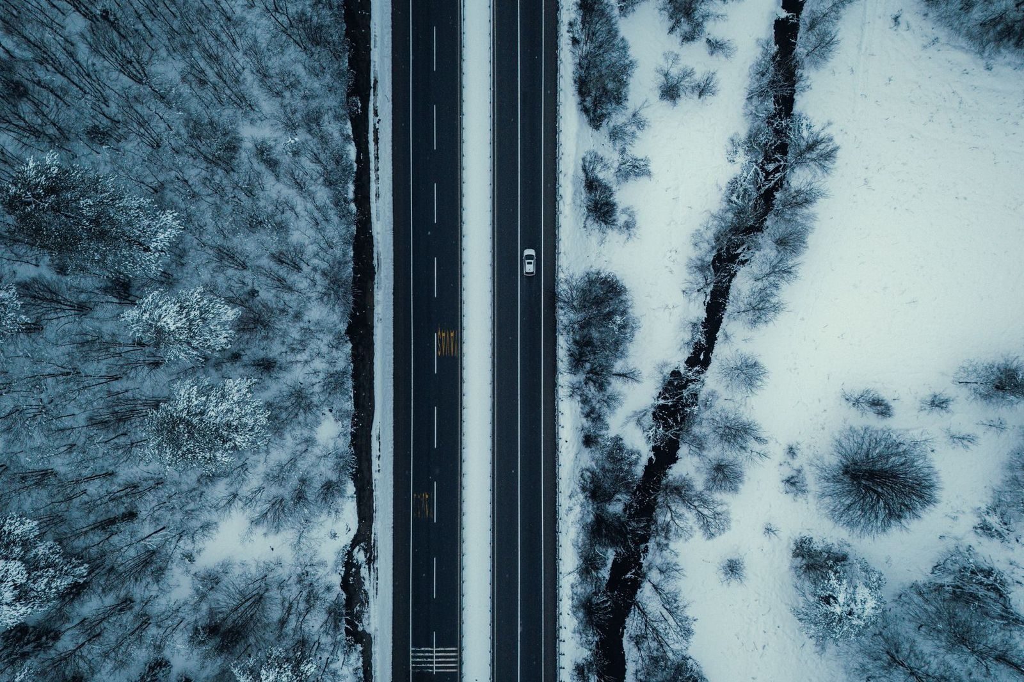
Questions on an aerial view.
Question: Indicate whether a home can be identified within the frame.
No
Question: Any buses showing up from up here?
No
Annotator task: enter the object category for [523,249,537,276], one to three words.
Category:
car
